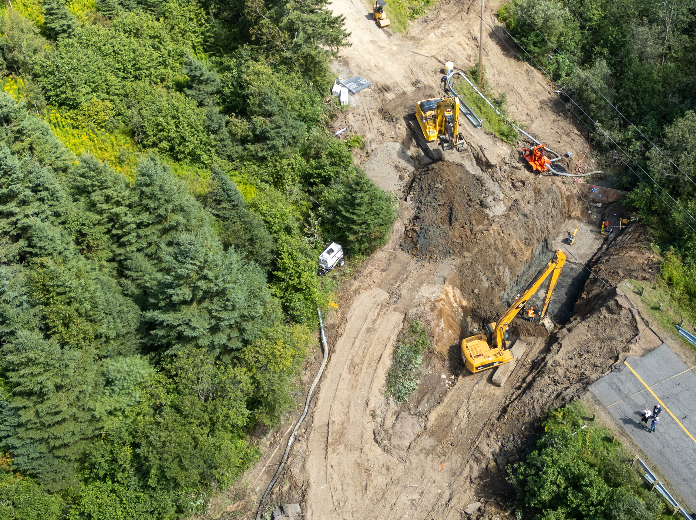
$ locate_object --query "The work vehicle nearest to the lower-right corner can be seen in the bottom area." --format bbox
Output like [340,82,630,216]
[460,248,566,388]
